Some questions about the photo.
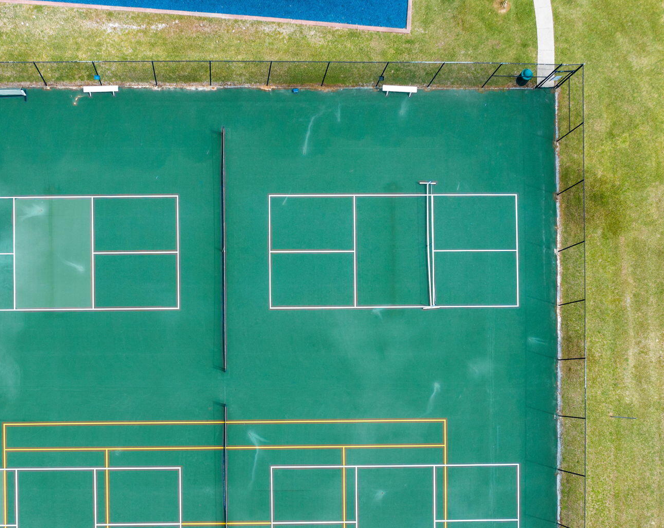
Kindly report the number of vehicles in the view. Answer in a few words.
0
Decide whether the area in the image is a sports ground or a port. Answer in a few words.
sports ground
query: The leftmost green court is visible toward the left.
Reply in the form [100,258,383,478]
[0,195,181,312]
